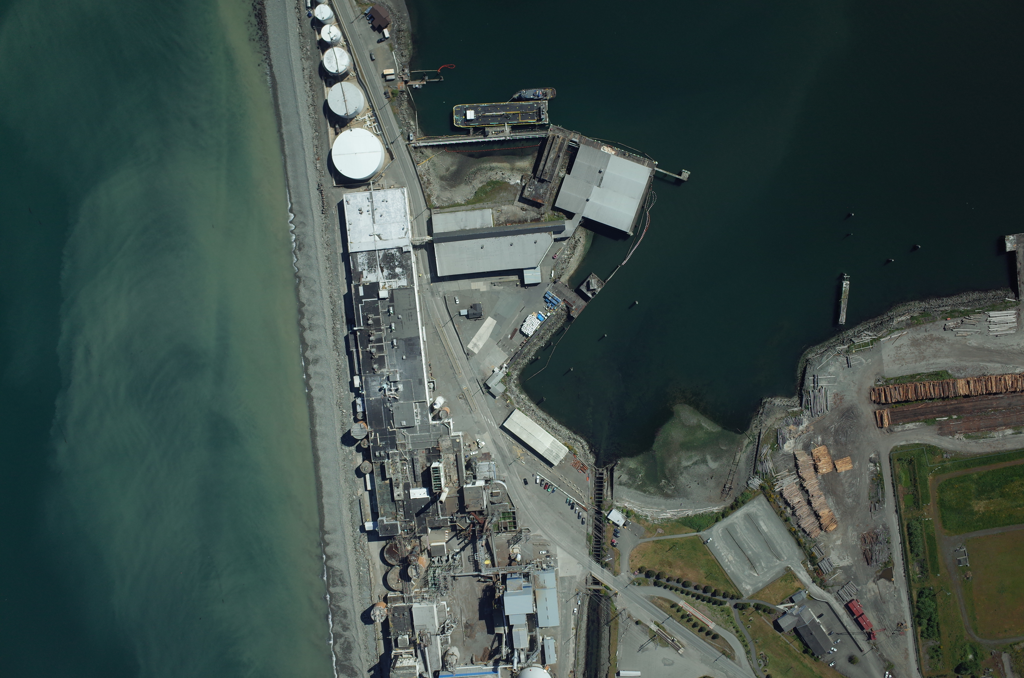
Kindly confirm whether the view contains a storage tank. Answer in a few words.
Yes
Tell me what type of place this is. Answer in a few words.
port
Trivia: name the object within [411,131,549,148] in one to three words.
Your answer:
pier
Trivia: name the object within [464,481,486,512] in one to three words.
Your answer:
building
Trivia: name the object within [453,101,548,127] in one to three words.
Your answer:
ship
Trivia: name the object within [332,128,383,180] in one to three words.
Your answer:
storage tank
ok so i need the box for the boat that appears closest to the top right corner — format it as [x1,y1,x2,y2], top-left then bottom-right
[513,87,556,101]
